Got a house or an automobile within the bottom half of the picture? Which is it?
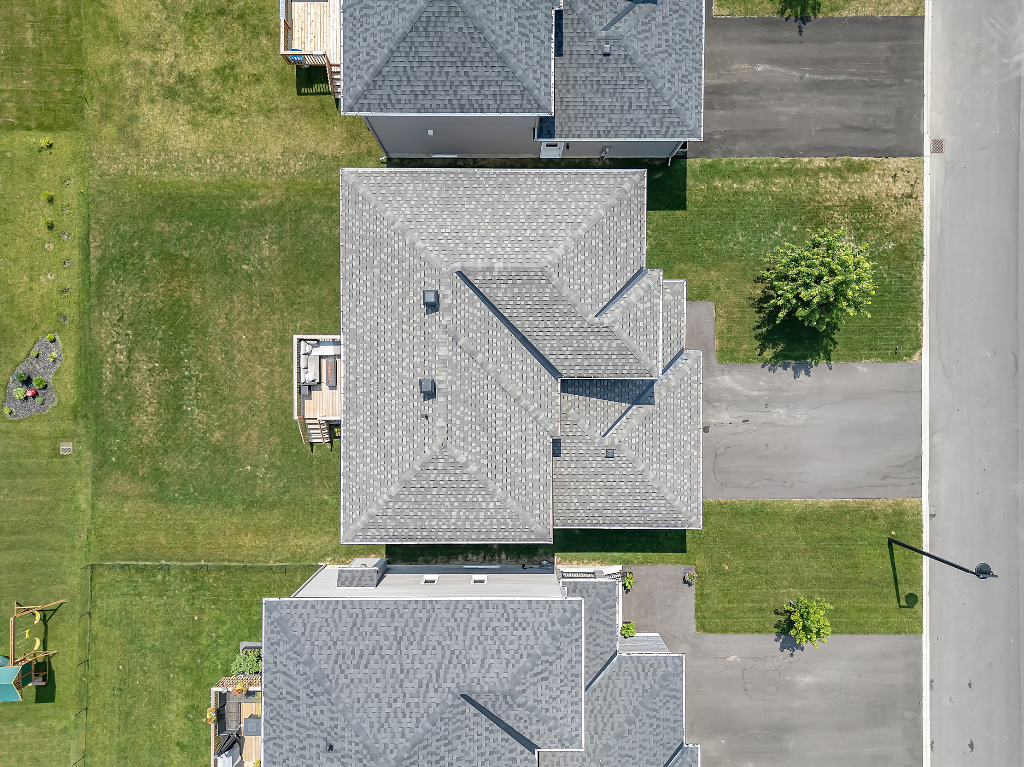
house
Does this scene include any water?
No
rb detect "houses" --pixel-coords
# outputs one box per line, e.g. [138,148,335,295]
[341,168,702,544]
[263,557,701,767]
[343,0,703,173]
